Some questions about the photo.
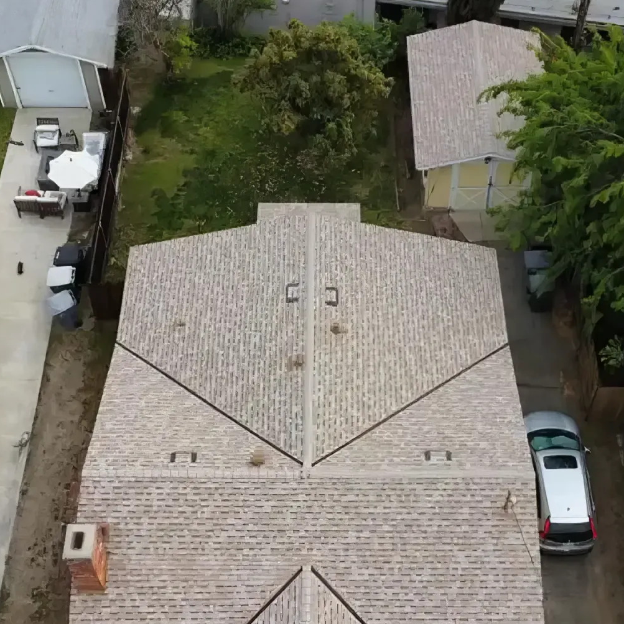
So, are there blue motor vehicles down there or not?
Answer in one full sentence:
No, no blue motor vehicle is visible in the view.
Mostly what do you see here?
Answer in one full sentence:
For the most part, this view shows buildings.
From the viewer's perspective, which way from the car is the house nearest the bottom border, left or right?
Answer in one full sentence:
You can see the house nearest the bottom border positioned to the left of the car.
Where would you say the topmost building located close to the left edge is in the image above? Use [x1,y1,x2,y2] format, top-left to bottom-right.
[0,0,125,107]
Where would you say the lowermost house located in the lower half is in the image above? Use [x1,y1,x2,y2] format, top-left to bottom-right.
[61,203,544,624]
